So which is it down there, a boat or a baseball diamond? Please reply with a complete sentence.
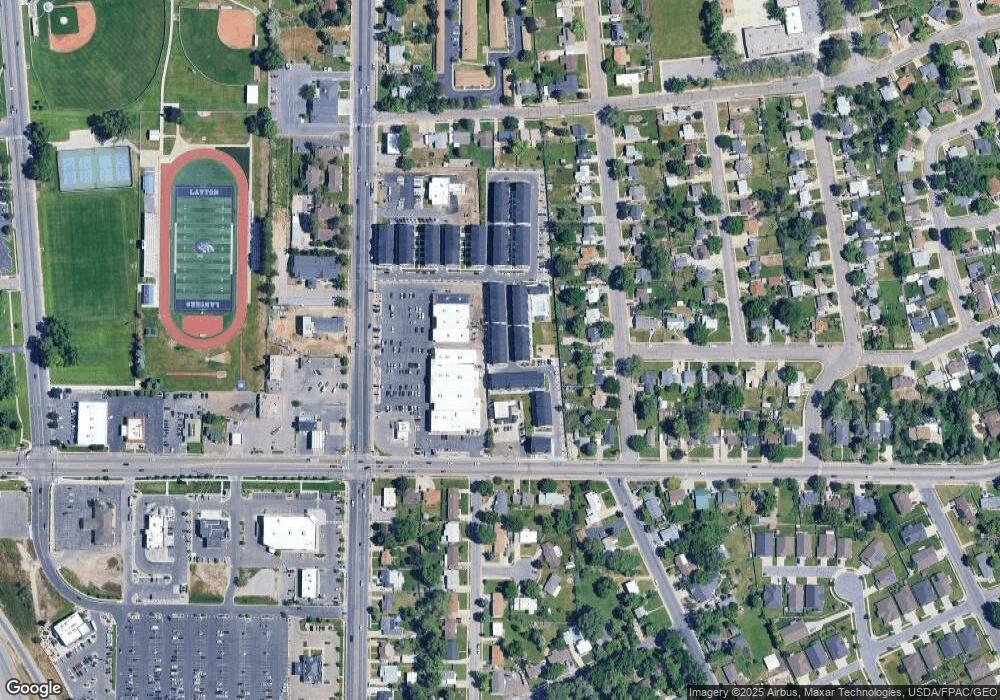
It is a baseball diamond that can be seen here.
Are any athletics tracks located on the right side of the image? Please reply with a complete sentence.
No, on the right side of the image there is no athletics track.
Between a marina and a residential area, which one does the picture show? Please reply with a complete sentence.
What you see here is a residential area.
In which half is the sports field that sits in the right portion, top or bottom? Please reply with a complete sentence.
The sports field that sits in the right portion is in the top half of the image.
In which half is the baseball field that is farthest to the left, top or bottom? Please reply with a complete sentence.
The top half of the photo is where the baseball field that is farthest to the left is.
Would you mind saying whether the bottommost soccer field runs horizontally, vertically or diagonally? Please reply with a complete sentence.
The bottommost soccer field is oriented vertically.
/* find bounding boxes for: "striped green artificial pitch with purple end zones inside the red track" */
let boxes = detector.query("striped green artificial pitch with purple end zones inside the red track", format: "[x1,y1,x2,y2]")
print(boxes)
[171,158,238,341]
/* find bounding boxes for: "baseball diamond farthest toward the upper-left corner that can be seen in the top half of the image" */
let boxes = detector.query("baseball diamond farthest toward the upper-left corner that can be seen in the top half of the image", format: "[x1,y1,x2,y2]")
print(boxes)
[31,0,165,109]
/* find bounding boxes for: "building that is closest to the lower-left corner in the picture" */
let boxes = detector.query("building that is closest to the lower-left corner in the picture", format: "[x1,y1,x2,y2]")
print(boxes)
[53,614,87,645]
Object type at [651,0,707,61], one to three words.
sports field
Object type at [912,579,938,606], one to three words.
house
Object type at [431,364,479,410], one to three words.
building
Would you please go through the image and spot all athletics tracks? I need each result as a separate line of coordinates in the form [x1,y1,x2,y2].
[160,148,249,350]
